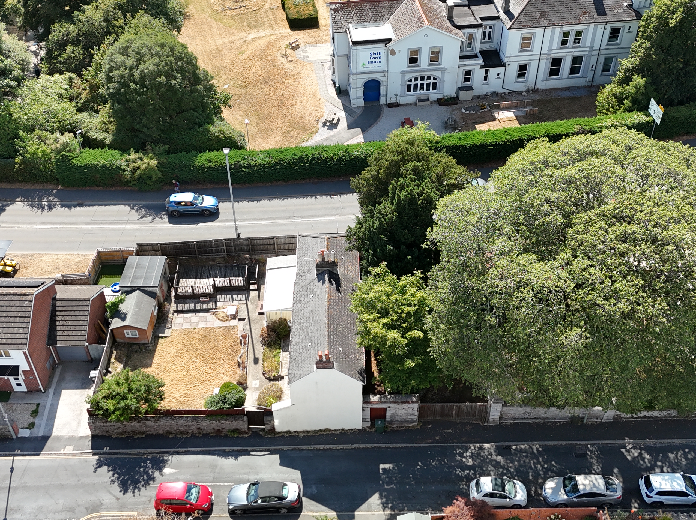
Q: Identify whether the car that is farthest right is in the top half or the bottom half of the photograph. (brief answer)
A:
bottom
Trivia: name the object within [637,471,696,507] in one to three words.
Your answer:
car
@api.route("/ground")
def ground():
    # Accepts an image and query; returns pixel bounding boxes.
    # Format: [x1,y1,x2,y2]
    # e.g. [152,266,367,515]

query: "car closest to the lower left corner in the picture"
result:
[153,478,215,514]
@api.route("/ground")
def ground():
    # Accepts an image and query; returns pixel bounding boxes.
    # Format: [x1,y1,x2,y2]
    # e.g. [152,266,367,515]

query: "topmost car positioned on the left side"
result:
[166,189,221,216]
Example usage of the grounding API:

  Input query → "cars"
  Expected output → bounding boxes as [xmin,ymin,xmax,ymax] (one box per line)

[468,473,528,506]
[166,189,221,216]
[227,476,304,512]
[540,470,623,507]
[153,478,215,514]
[637,471,696,507]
